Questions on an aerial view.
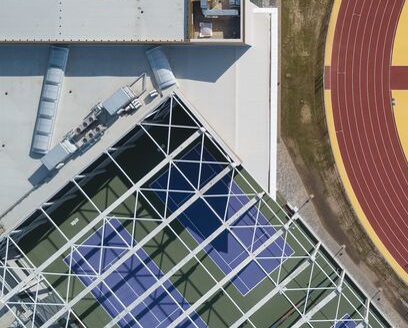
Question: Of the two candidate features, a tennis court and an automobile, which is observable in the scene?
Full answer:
The image shows a tennis court.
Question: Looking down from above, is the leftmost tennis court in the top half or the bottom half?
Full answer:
The leftmost tennis court is in the bottom half of the image.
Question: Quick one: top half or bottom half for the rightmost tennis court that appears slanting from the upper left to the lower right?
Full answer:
It is in the bottom half that the rightmost tennis court that appears slanting from the upper left to the lower right appears.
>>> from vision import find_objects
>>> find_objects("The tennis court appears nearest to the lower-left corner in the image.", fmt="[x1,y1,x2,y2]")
[63,217,208,328]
